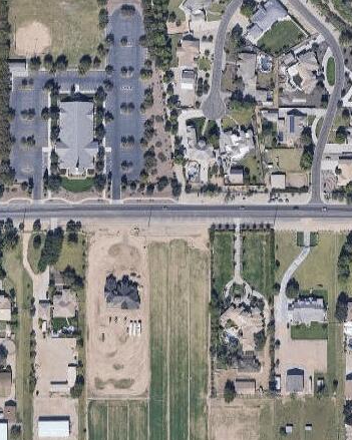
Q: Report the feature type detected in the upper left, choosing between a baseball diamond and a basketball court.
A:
baseball diamond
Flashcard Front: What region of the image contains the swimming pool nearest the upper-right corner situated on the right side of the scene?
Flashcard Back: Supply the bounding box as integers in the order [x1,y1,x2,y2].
[258,55,273,73]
